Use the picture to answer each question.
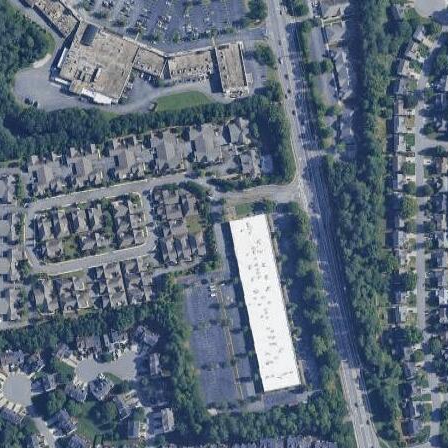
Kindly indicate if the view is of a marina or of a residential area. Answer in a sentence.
The picture captures a residential area.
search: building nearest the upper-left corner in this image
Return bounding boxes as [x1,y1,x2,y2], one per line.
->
[24,0,81,39]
